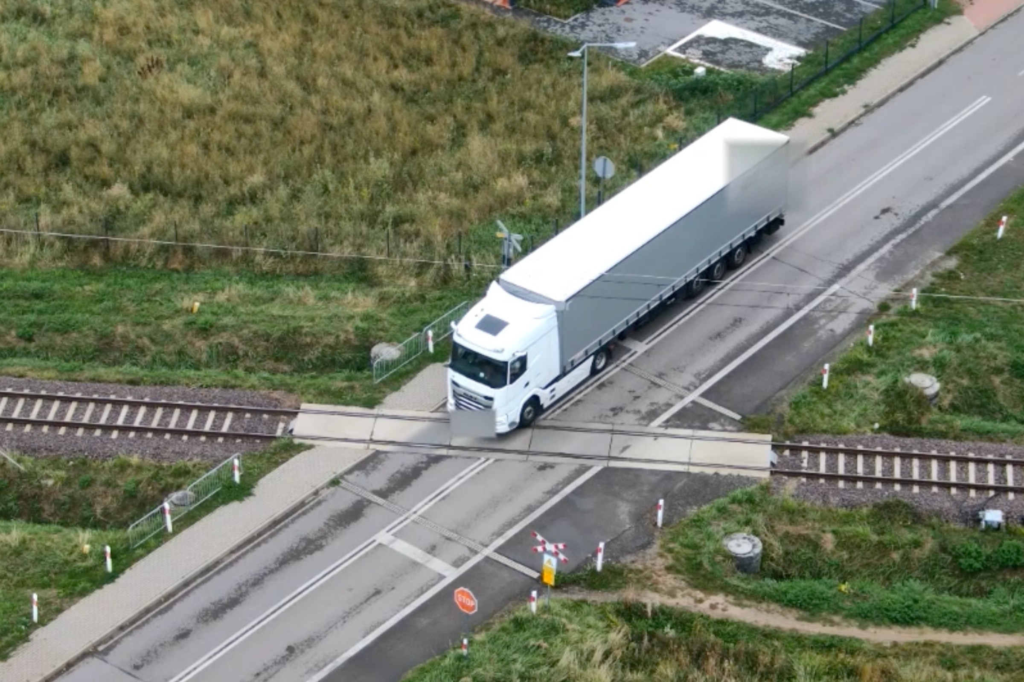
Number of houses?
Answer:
0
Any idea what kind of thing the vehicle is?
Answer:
truck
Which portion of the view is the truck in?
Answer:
center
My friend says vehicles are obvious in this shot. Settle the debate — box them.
[442,117,790,435]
